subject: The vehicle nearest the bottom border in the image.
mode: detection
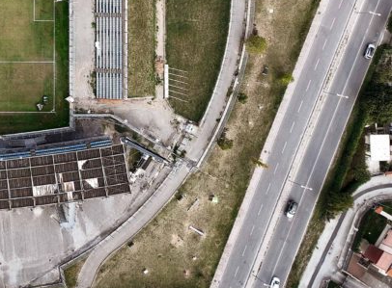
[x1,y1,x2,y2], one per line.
[268,276,280,288]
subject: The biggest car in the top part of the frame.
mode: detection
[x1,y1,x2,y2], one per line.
[364,43,376,59]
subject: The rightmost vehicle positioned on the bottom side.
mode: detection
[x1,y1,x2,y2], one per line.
[284,200,297,218]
